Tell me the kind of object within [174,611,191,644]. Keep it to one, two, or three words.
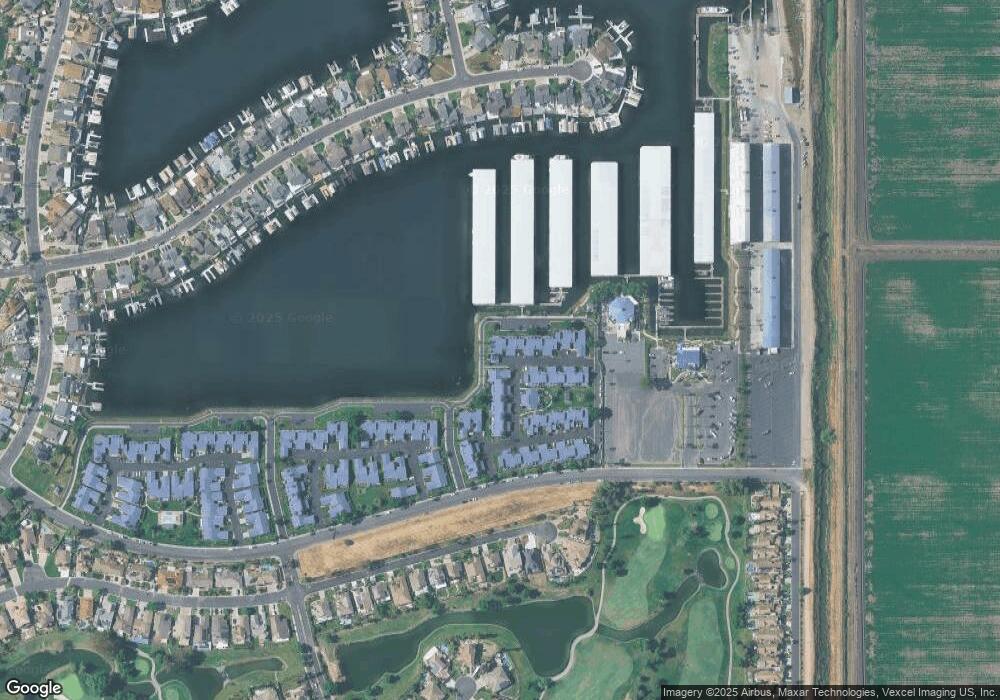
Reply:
house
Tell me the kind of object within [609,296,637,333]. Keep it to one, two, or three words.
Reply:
building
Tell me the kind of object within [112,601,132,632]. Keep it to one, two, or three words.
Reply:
house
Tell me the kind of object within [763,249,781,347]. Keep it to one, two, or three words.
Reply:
shed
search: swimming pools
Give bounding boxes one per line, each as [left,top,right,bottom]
[158,511,184,525]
